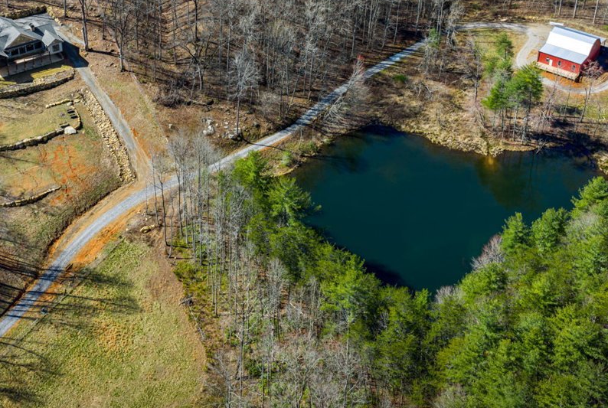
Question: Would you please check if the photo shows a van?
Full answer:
No, there isn't any van down there.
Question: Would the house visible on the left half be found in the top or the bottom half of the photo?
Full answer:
Seen from above, the house visible on the left half lies in the top half of the view.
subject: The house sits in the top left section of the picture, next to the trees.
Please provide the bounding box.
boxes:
[0,13,65,78]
